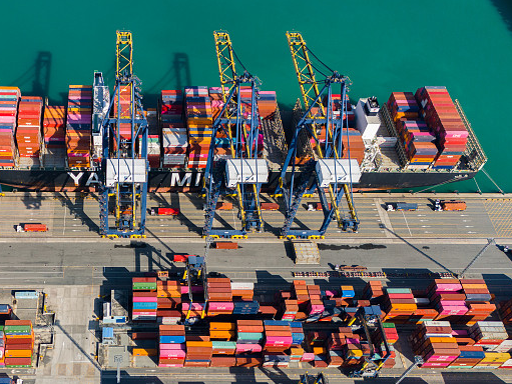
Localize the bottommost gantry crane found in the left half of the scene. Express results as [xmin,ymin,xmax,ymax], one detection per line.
[181,254,209,322]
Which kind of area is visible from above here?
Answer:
port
